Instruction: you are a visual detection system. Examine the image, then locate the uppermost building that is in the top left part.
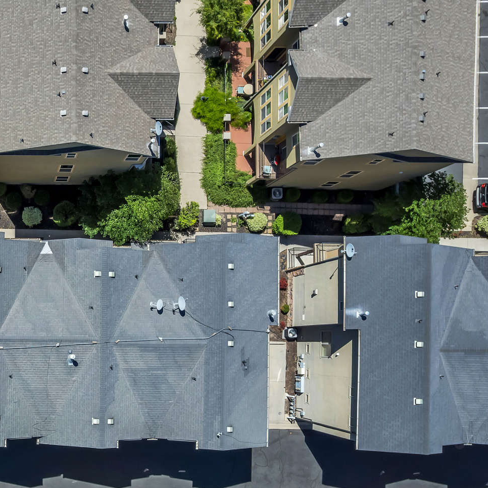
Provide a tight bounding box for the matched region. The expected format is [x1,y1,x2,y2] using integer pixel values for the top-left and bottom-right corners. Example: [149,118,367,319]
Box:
[0,0,180,183]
